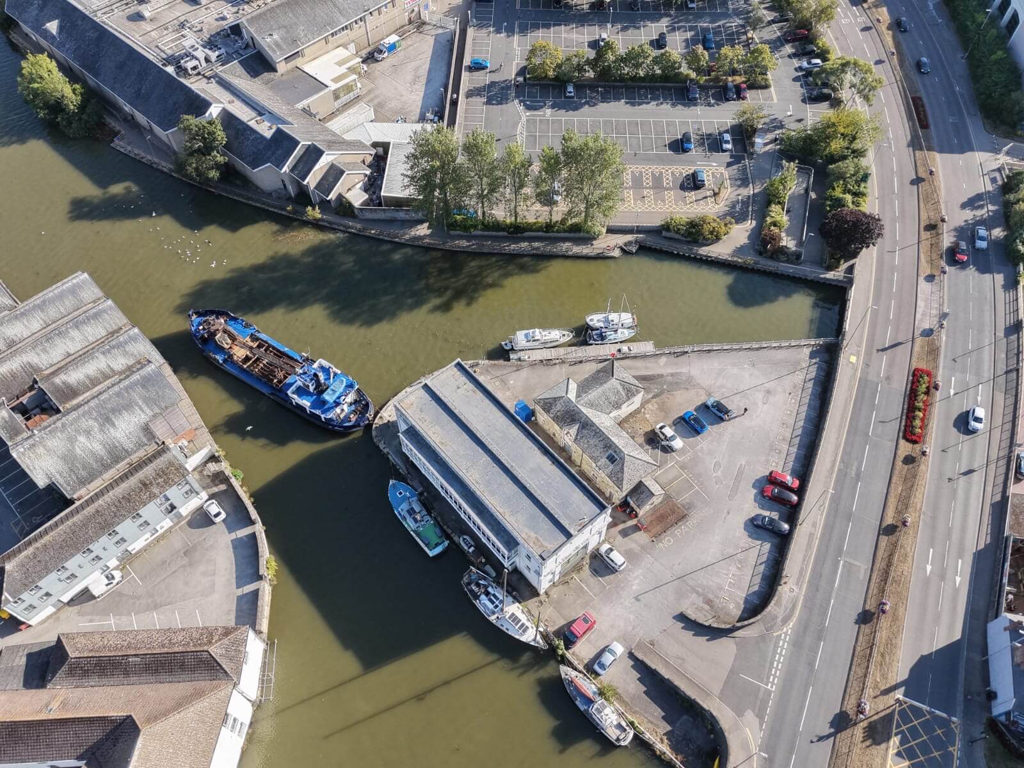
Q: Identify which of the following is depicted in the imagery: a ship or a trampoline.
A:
ship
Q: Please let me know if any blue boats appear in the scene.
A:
Yes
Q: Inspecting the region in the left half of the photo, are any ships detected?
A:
Yes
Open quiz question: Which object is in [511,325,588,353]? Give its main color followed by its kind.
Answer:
white boat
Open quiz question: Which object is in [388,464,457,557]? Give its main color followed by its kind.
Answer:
blue boat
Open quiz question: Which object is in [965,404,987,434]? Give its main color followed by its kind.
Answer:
white car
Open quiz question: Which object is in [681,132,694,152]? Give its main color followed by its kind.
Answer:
blue vehicle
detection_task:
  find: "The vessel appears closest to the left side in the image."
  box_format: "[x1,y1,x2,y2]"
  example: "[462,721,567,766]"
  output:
[188,309,381,447]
